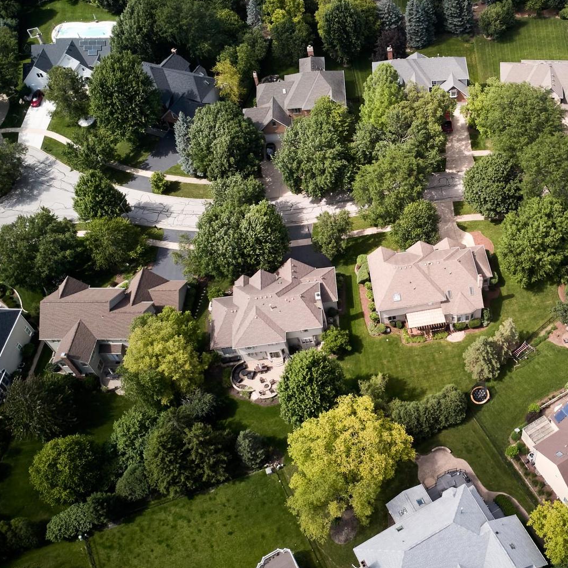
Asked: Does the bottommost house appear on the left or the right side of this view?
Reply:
right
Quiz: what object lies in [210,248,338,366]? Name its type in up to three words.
house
